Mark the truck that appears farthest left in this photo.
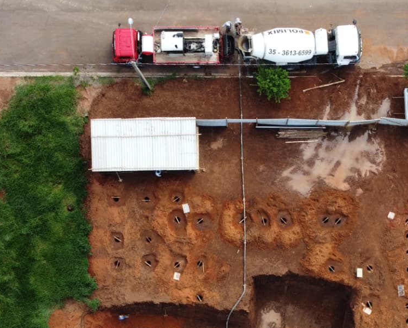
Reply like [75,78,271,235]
[110,20,236,69]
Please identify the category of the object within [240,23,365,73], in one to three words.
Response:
truck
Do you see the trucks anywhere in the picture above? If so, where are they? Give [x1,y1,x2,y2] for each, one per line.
[240,23,365,73]
[110,20,236,69]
